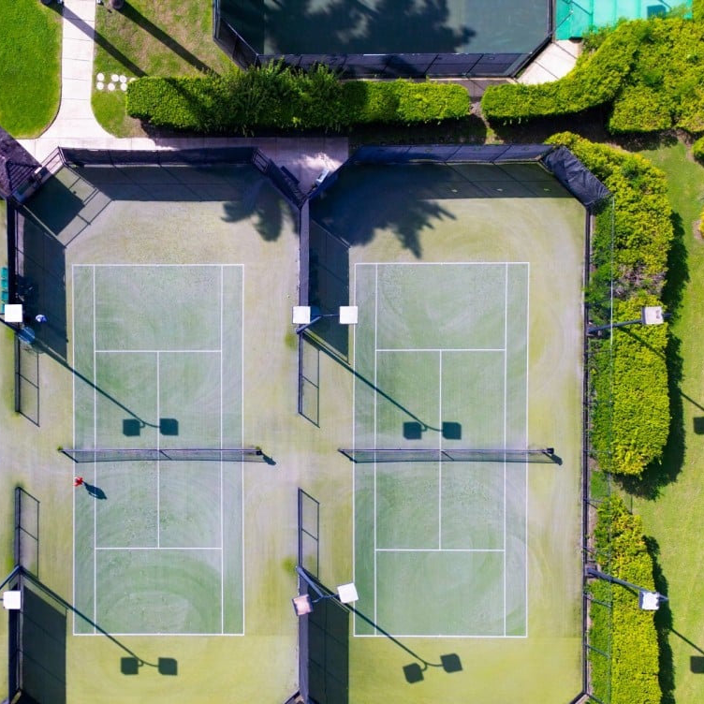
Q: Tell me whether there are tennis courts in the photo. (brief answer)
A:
Yes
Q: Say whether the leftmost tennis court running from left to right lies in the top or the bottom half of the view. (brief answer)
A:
top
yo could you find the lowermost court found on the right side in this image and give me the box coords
[299,163,587,704]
